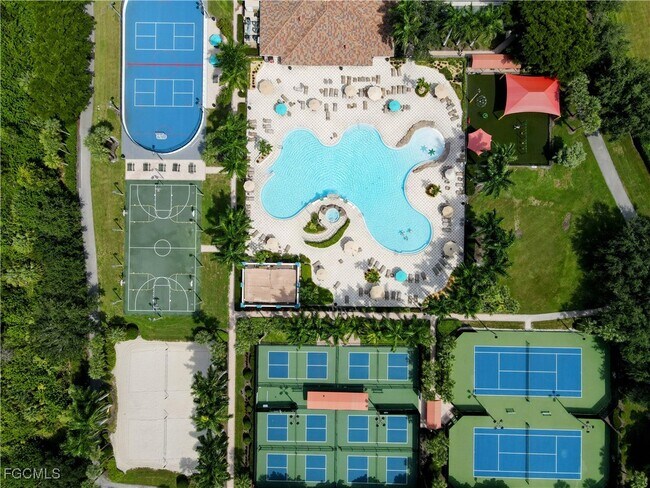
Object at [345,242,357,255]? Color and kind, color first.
white umbrella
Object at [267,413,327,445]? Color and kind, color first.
blue sports court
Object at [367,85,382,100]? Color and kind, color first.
white umbrella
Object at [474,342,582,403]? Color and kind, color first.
blue tennis court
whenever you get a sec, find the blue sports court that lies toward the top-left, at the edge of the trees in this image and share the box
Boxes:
[118,0,206,154]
